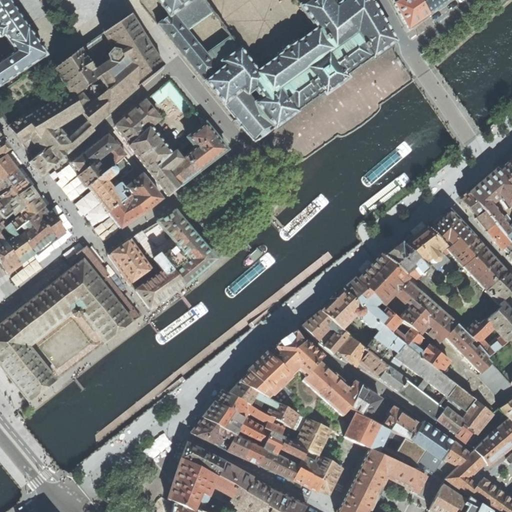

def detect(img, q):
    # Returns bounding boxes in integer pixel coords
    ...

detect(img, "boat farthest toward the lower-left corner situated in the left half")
[157,303,208,344]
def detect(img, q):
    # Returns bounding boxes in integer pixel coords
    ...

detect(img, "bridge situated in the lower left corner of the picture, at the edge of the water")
[0,420,72,492]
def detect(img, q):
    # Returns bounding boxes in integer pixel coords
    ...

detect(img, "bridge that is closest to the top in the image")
[414,66,481,146]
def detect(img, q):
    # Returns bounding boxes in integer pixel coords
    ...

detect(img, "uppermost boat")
[364,142,412,185]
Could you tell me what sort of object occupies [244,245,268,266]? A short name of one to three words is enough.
boat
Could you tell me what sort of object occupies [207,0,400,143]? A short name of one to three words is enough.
building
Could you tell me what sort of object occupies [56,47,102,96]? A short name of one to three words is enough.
house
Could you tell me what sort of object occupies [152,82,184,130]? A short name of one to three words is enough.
house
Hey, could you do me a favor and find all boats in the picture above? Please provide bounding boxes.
[364,142,412,185]
[280,196,330,239]
[244,245,268,266]
[226,254,274,296]
[157,303,208,344]
[360,174,410,212]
